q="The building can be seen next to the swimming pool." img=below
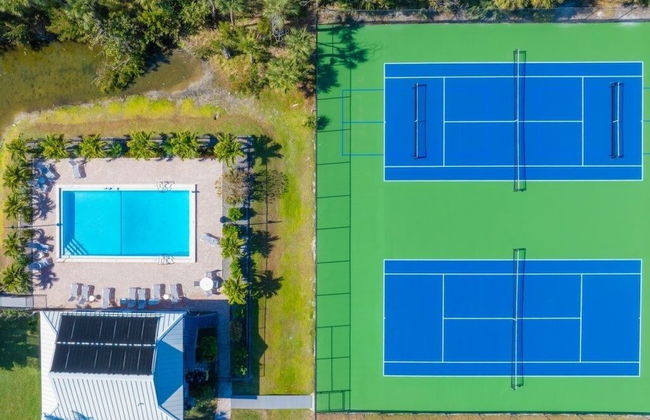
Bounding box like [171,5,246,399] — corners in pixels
[39,308,190,420]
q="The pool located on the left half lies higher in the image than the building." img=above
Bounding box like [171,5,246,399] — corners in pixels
[56,184,195,263]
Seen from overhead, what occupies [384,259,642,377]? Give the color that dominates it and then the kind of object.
blue tennis court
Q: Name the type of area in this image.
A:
sports ground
